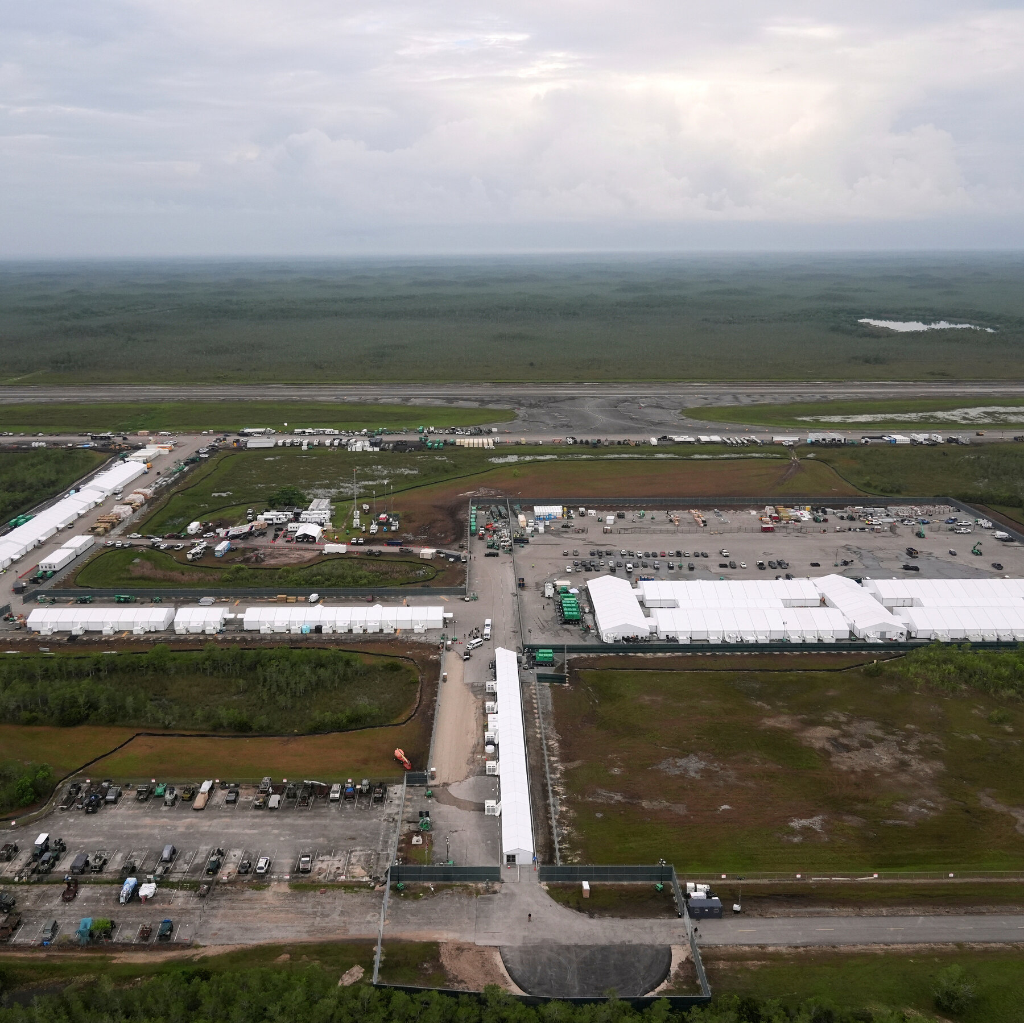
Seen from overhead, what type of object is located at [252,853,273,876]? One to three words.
car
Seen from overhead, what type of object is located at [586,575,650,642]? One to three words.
tent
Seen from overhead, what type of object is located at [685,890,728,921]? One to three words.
shed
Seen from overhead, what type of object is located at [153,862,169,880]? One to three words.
boat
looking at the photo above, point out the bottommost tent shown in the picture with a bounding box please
[494,647,533,866]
